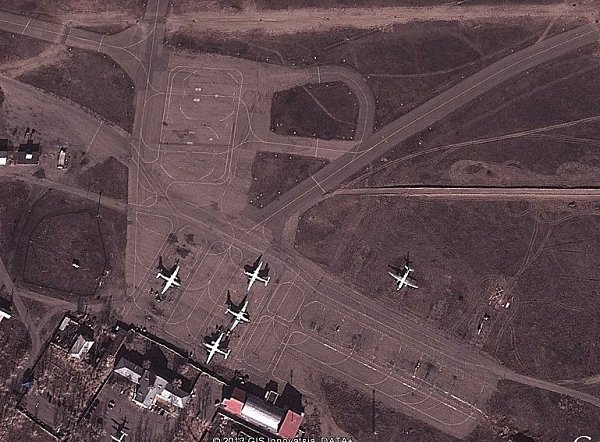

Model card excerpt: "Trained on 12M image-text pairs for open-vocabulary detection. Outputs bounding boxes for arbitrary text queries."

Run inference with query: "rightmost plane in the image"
[388,264,420,290]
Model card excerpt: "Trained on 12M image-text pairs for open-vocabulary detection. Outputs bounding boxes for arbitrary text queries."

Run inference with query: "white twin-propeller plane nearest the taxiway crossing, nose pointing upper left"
[244,261,271,292]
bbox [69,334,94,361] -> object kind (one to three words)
house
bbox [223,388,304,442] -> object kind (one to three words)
building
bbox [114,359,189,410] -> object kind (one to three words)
building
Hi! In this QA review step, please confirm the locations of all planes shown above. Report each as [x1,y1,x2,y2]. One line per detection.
[204,334,231,364]
[244,261,271,292]
[388,264,420,290]
[109,432,127,442]
[154,264,180,295]
[223,301,250,332]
